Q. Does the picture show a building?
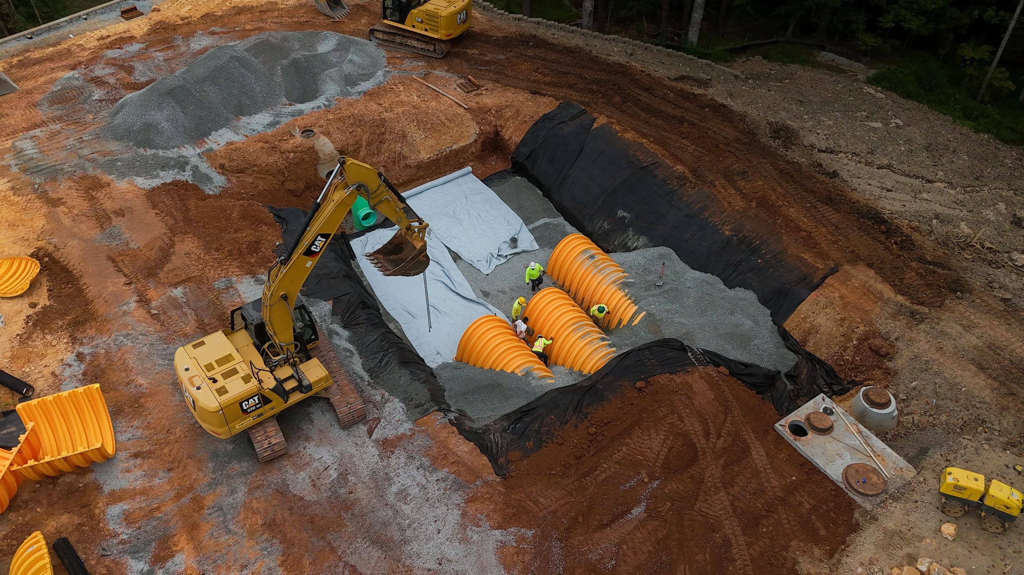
No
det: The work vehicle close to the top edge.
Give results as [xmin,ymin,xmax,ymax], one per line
[370,0,485,57]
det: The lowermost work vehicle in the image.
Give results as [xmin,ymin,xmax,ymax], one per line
[170,149,430,463]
